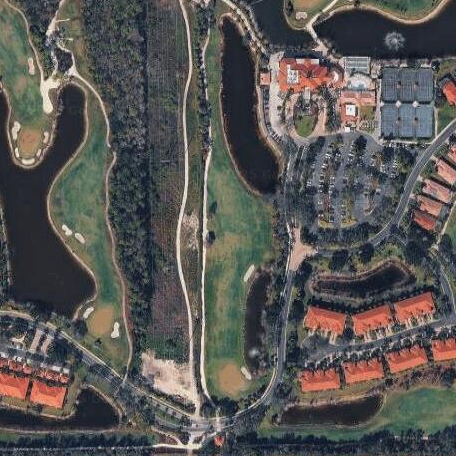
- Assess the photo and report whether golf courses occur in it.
Yes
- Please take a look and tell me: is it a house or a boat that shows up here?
house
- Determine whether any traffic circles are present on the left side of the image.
No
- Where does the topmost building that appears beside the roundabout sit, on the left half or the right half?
right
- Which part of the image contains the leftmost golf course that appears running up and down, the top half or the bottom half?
top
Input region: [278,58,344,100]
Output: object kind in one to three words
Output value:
building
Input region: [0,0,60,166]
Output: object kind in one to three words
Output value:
golf course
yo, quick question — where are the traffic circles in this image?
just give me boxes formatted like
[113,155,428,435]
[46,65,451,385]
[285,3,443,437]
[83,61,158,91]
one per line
[283,97,325,140]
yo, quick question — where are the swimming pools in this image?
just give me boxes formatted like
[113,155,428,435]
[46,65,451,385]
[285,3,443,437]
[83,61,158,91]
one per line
[347,73,375,90]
